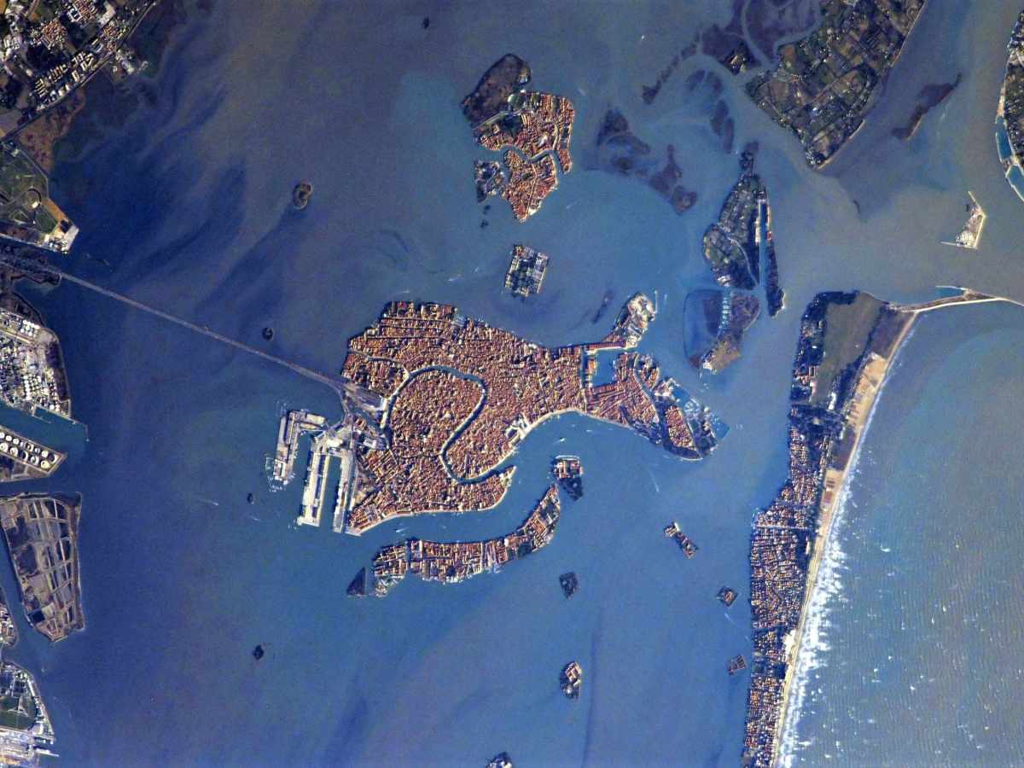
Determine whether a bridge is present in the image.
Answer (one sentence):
Yes, the image includes a bridge.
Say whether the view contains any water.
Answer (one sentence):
Yes, there is water in the image.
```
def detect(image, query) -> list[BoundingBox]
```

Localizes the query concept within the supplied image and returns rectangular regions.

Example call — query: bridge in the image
[58,273,343,390]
